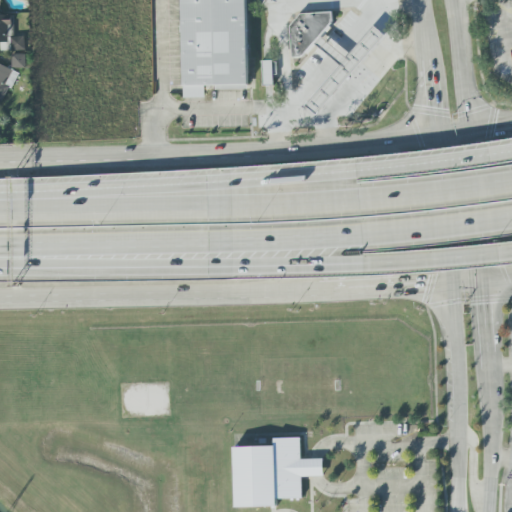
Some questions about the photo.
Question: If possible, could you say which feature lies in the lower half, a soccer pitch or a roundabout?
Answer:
soccer pitch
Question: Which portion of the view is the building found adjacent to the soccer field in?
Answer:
bottom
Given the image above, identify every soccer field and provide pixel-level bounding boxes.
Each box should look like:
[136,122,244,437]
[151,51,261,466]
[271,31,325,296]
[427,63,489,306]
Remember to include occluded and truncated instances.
[261,357,352,416]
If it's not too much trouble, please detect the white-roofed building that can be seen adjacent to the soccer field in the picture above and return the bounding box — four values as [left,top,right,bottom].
[232,437,324,508]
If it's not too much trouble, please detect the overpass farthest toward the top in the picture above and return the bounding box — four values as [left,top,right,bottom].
[356,138,512,178]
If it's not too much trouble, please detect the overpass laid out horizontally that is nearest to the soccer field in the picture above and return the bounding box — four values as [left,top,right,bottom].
[365,242,512,274]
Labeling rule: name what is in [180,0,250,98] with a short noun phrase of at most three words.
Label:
building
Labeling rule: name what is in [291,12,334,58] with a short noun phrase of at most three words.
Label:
building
